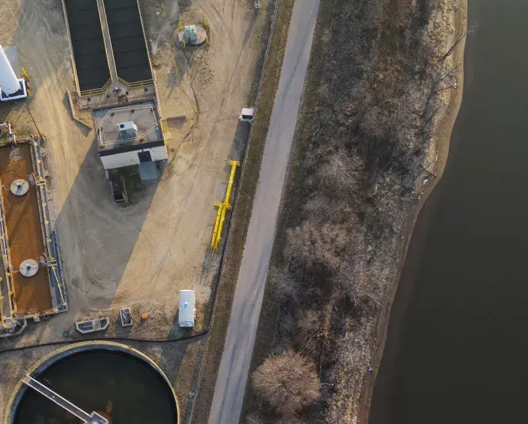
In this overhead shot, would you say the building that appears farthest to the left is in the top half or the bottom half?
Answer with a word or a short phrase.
top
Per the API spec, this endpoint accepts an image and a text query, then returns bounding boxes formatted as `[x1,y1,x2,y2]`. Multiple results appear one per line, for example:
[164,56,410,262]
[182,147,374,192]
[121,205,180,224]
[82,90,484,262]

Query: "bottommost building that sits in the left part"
[93,100,169,167]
